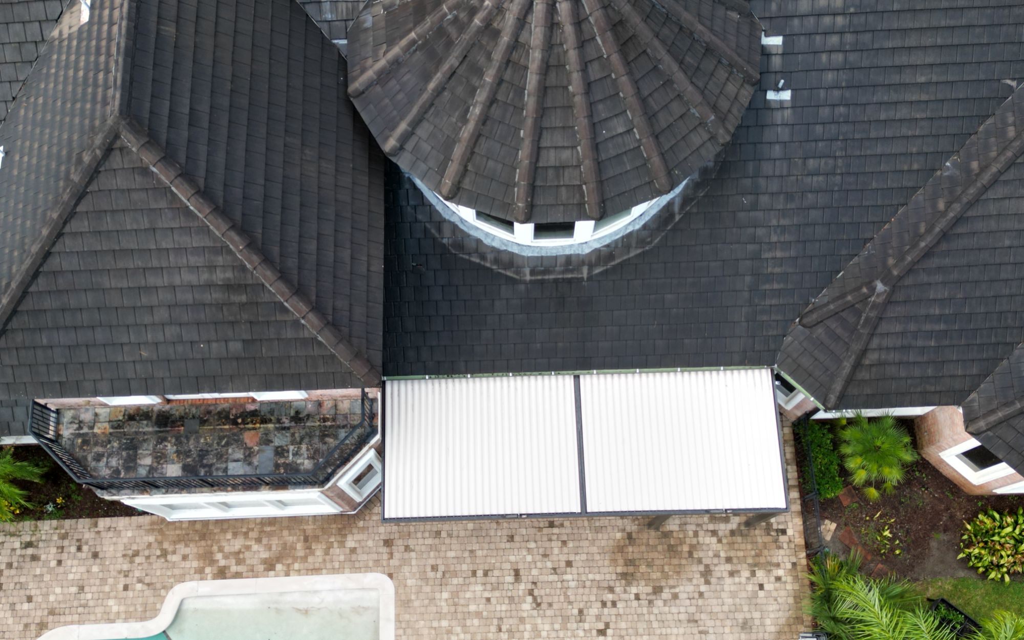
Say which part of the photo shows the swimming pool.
bottom left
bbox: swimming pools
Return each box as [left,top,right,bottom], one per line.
[38,573,395,640]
